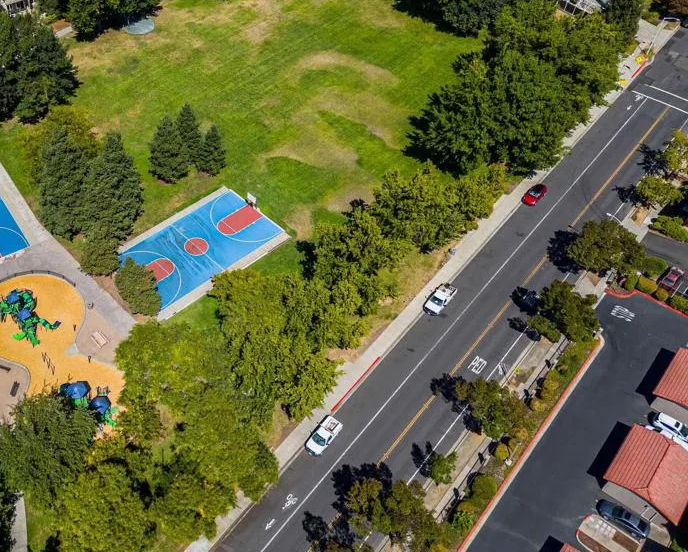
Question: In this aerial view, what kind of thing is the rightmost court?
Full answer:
It turns out the rightmost court is a basketball court.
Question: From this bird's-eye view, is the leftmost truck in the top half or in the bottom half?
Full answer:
The bottom half of the photo is where the leftmost truck is.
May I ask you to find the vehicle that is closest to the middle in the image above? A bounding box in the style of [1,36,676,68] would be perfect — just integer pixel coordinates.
[424,279,459,314]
